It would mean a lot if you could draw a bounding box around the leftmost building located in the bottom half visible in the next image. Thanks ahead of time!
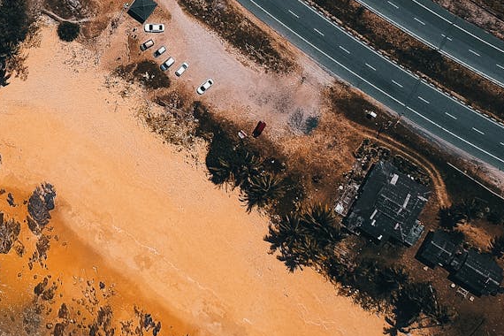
[338,159,430,252]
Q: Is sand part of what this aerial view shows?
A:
Yes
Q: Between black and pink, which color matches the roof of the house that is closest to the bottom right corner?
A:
black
